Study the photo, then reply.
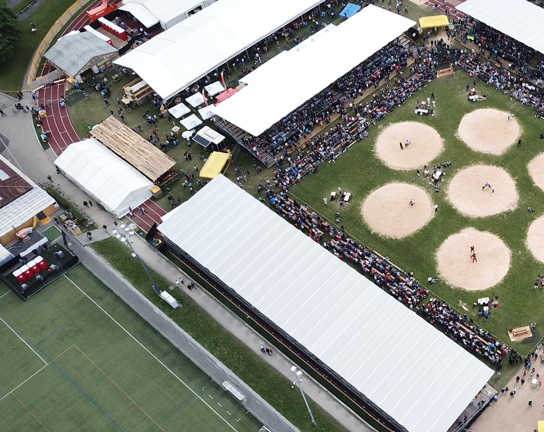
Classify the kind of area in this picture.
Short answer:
sports ground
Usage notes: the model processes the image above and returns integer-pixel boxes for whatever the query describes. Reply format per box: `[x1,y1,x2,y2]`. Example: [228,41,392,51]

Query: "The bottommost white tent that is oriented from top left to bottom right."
[53,138,155,222]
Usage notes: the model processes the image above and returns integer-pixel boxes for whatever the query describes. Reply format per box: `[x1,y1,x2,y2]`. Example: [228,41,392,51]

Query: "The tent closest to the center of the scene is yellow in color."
[200,150,233,184]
